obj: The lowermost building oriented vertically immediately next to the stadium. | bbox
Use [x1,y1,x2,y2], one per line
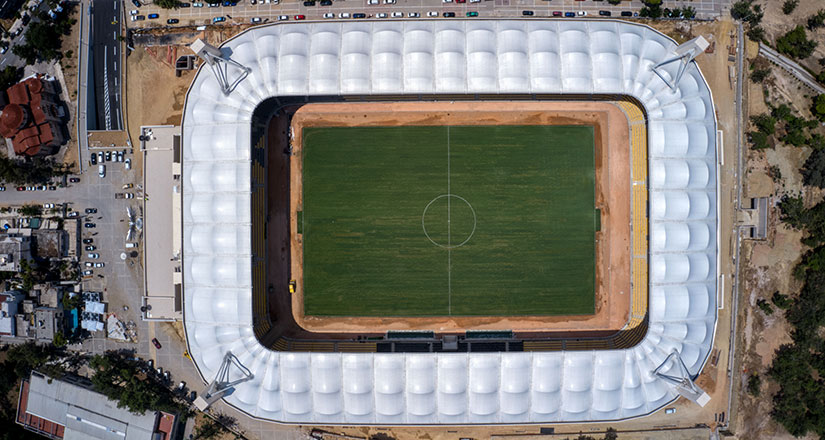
[139,125,180,321]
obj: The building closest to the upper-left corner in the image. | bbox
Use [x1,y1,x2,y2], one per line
[0,67,70,159]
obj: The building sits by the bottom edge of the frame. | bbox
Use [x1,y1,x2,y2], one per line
[12,363,187,440]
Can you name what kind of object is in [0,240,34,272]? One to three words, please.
house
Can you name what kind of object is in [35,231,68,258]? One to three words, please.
house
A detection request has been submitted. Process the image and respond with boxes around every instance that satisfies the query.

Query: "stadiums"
[180,19,720,427]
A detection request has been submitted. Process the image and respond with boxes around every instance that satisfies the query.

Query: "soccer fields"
[296,123,601,319]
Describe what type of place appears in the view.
sports ground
